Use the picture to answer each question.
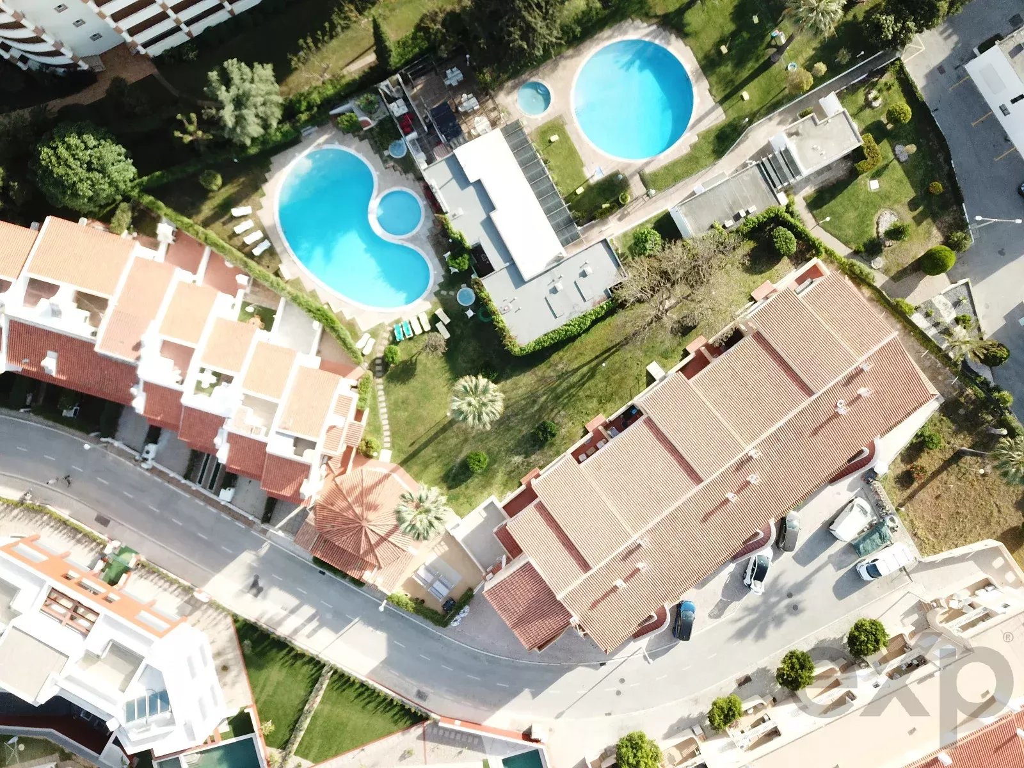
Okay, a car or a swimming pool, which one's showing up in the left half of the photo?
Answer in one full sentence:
The feature located in the left half of the photo is a swimming pool.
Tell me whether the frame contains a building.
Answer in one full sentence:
Yes, I can see a building in this picture.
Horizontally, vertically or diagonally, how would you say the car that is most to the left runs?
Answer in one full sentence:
From this overhead view, the car that is most to the left appears to run vertically.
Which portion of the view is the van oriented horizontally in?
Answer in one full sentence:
The van oriented horizontally sits in the bottom right section of the image.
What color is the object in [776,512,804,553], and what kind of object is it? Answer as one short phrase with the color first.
gray car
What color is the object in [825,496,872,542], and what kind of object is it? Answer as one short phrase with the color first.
white van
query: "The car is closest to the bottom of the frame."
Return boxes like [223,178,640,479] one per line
[673,599,697,642]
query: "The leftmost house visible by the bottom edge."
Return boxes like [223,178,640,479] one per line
[0,525,226,757]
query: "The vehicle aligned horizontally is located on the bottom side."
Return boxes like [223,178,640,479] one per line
[855,546,913,579]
